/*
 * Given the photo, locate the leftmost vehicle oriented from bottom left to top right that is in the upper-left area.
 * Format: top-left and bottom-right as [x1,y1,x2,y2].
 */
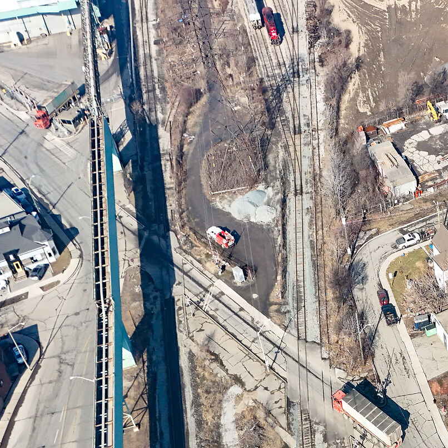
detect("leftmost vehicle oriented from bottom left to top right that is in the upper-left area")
[36,79,88,125]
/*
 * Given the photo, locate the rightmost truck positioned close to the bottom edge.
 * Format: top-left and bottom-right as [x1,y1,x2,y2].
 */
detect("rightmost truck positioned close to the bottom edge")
[344,398,409,448]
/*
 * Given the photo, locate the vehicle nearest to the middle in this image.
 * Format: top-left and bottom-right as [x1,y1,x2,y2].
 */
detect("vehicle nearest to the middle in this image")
[207,227,235,247]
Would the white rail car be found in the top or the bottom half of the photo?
top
